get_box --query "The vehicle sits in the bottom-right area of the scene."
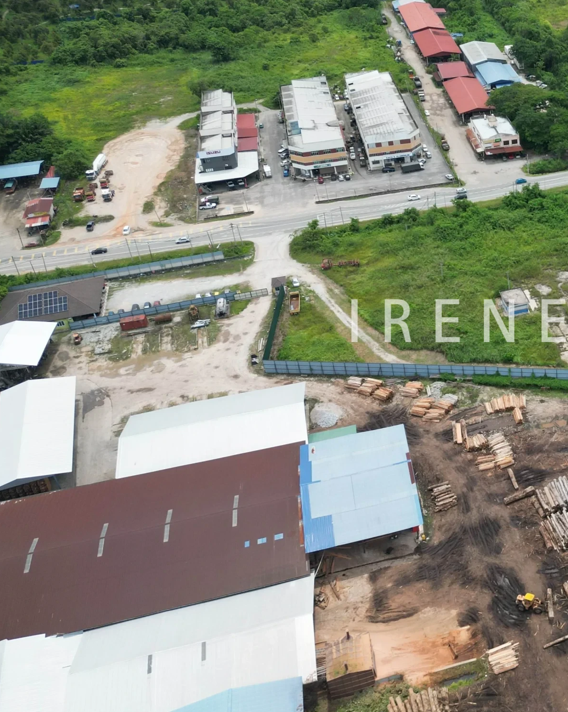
[512,589,558,613]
